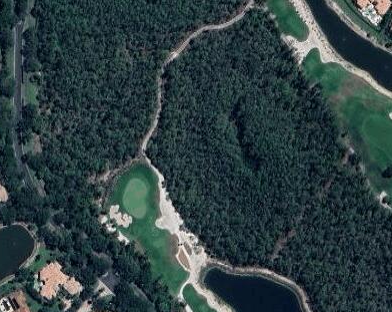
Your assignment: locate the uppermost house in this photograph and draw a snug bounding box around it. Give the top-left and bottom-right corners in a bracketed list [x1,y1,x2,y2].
[353,0,392,17]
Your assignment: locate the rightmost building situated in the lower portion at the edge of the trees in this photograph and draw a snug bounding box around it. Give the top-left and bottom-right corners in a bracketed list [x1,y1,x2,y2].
[37,259,84,302]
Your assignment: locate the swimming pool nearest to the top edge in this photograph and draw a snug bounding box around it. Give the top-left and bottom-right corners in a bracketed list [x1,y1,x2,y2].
[364,4,382,25]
